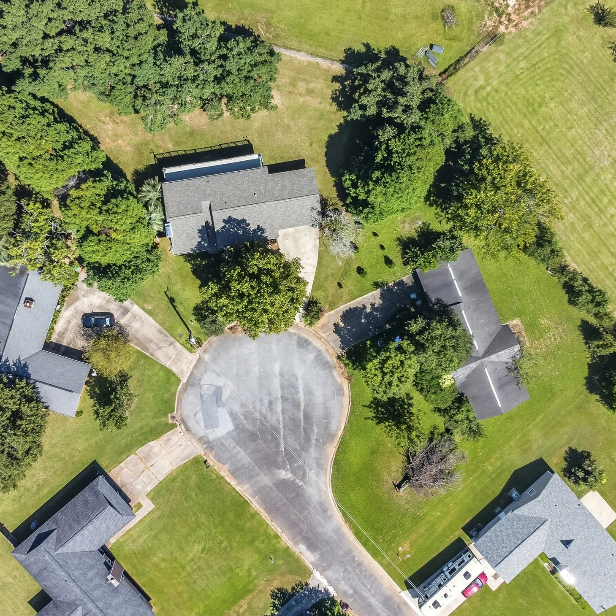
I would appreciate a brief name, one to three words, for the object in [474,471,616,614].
house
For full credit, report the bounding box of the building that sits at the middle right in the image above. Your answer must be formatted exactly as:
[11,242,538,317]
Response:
[416,248,529,419]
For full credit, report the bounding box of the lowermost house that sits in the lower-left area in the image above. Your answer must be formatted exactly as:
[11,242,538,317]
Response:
[11,475,163,616]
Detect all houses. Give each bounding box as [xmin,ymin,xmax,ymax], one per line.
[11,475,163,616]
[416,248,529,419]
[474,471,616,614]
[161,152,319,255]
[0,259,93,418]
